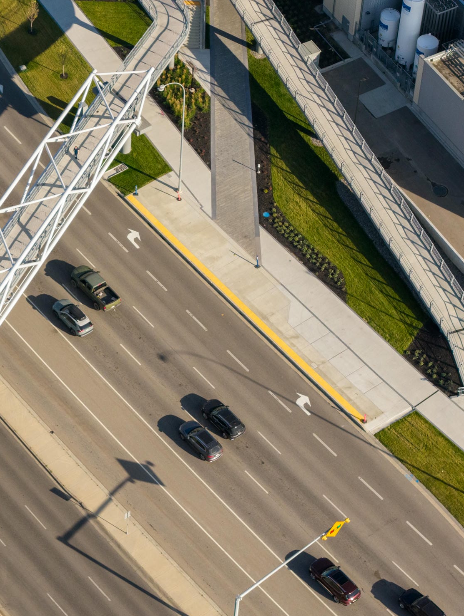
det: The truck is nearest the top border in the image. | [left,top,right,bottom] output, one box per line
[72,264,122,313]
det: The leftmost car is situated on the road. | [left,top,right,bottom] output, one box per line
[52,298,94,340]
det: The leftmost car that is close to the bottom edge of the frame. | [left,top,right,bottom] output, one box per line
[309,556,363,612]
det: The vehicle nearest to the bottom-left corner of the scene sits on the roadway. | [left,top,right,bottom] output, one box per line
[179,419,224,468]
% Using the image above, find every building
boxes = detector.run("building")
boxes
[323,0,405,37]
[411,35,464,163]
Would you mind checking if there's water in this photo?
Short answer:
No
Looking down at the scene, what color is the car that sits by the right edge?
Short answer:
black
